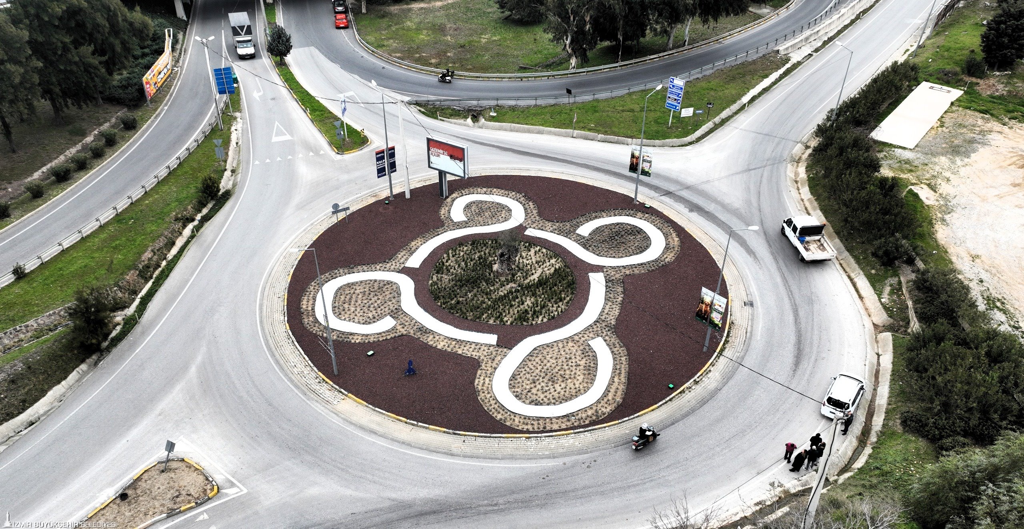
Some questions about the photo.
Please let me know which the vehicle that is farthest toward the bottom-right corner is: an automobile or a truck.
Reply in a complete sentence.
I'd say the vehicle that is farthest toward the bottom-right corner is an automobile.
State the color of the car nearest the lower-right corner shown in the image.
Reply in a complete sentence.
In this view, the car nearest the lower-right corner is white.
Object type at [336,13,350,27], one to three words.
car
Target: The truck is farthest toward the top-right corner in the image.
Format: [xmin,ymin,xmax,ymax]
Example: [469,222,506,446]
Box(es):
[779,217,835,265]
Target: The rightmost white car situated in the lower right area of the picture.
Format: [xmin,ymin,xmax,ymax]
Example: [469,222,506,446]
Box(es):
[819,370,869,423]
